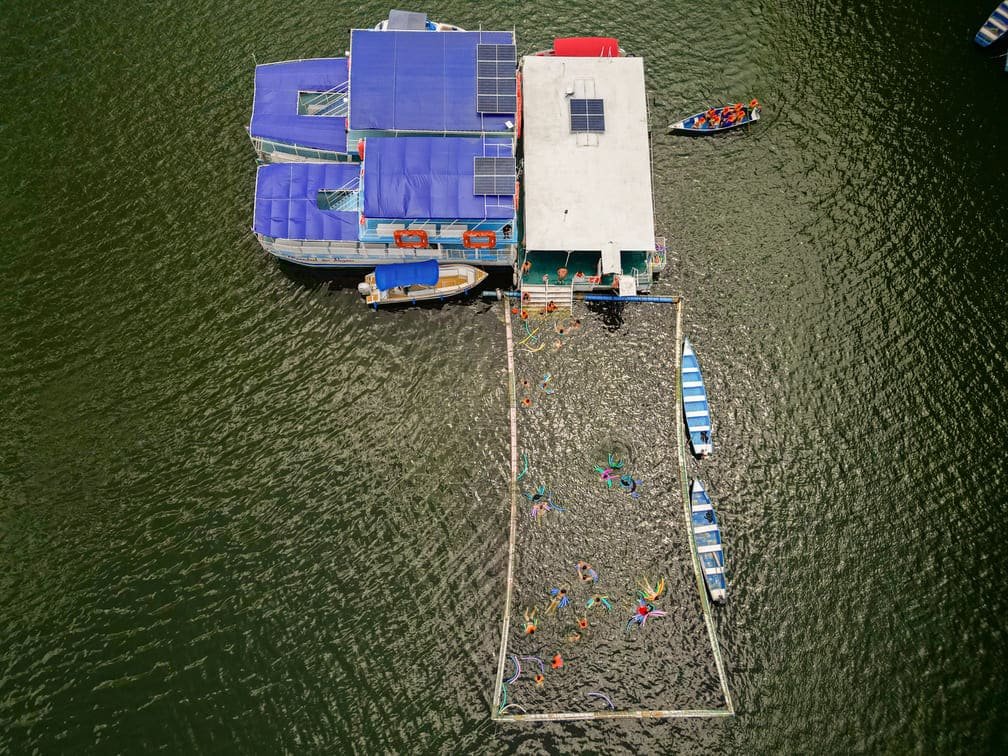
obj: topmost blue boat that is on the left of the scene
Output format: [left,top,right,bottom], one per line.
[243,20,516,170]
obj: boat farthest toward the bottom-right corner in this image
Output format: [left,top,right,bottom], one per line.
[693,478,726,607]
